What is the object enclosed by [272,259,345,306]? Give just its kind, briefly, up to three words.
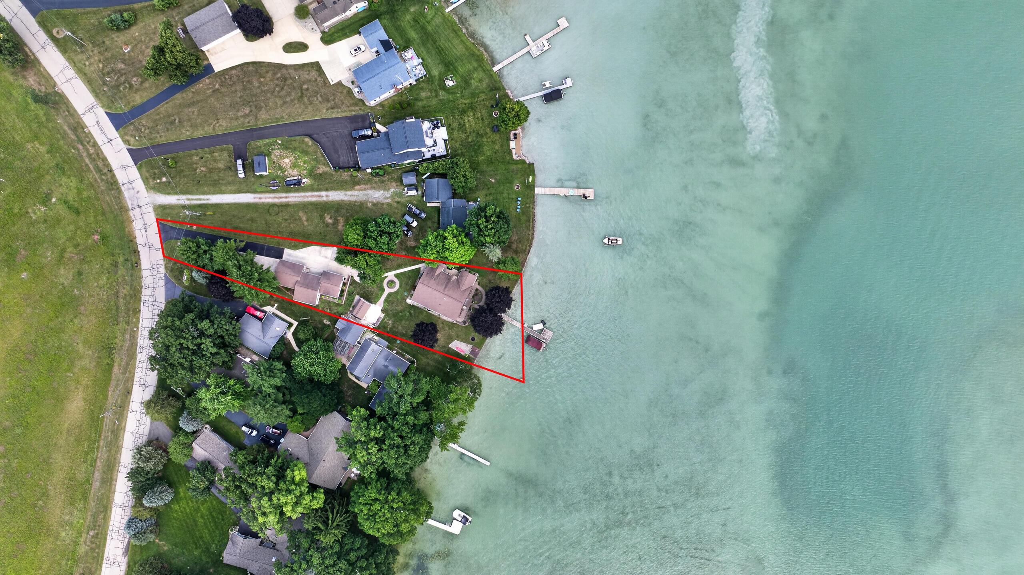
house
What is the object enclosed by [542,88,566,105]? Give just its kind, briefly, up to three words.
boat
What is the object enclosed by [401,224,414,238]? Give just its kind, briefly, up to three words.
vehicle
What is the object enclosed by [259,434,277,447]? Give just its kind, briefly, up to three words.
vehicle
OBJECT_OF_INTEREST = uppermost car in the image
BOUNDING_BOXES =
[349,44,367,57]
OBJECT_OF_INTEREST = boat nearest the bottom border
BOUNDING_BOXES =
[454,509,472,525]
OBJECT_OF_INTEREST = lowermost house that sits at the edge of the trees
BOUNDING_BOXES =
[223,527,291,575]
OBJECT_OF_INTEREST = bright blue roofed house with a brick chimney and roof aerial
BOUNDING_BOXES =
[352,19,412,104]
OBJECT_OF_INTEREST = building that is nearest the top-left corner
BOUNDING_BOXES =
[183,0,243,52]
